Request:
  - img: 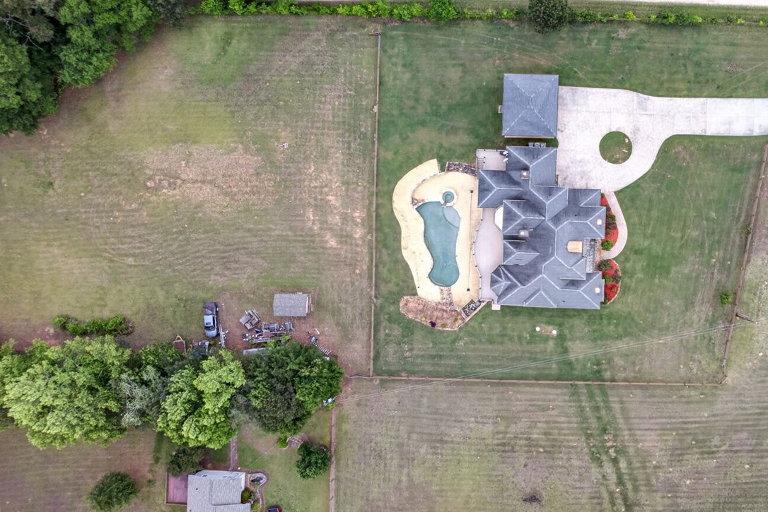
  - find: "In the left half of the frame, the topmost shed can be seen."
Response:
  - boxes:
[273,293,314,317]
